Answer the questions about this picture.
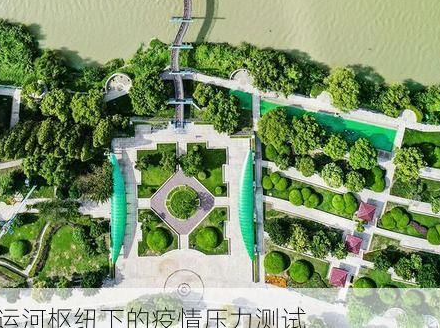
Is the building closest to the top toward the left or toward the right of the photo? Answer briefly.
right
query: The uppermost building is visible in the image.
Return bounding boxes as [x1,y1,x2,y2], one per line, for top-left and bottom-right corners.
[355,198,376,222]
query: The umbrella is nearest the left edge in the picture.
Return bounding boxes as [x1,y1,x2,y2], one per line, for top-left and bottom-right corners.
[386,306,403,324]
